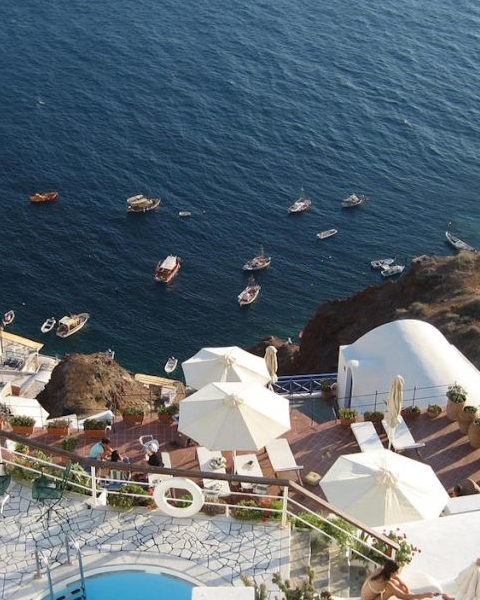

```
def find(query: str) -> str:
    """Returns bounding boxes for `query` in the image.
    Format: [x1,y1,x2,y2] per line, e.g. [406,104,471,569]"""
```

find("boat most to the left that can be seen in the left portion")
[1,311,14,326]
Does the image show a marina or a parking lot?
marina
